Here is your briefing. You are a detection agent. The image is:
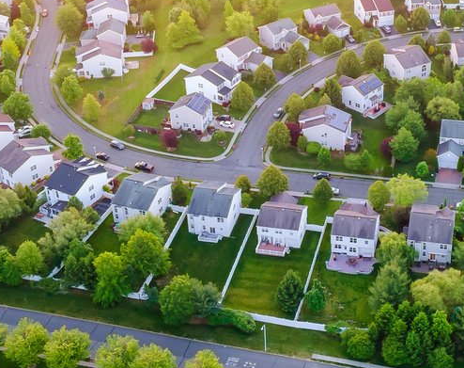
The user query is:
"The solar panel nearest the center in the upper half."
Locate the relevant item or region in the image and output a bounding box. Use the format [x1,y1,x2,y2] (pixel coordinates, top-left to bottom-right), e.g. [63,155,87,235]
[187,94,213,118]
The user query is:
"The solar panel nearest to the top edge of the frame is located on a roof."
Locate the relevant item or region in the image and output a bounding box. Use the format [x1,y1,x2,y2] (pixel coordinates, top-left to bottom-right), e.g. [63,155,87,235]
[356,76,381,98]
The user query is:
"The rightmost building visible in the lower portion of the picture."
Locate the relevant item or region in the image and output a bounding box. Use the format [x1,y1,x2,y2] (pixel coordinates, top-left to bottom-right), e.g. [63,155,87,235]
[405,207,457,259]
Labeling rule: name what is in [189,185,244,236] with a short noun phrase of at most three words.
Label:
house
